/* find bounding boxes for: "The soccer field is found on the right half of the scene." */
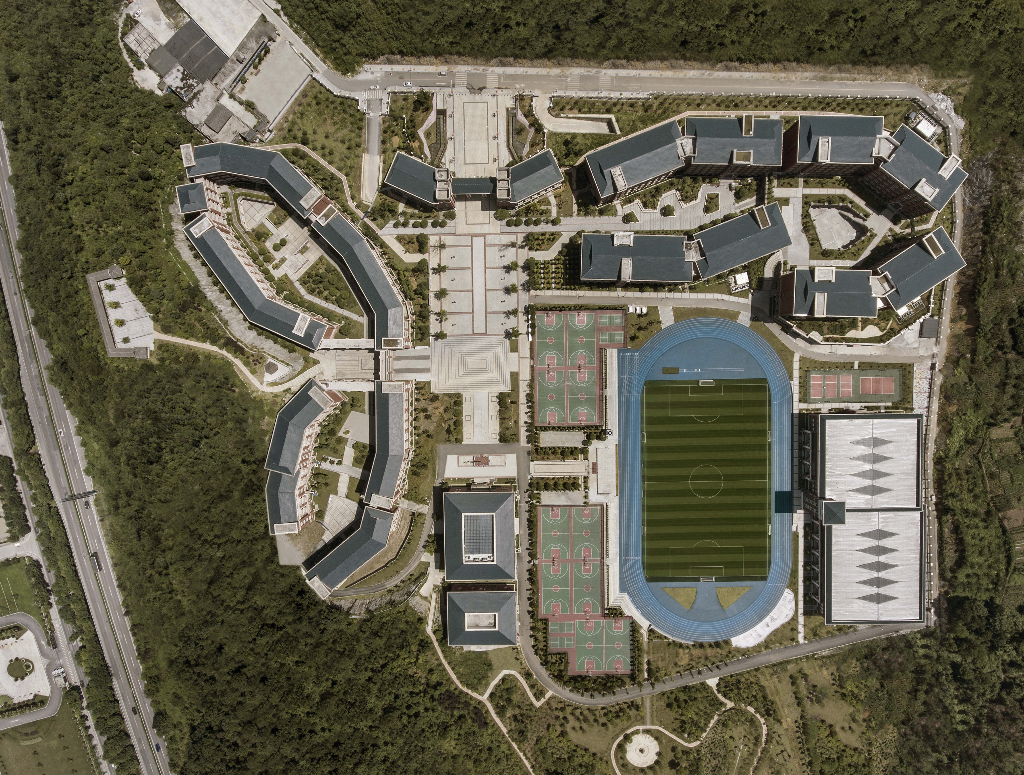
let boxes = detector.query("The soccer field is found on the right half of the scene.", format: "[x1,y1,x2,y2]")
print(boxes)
[642,380,770,582]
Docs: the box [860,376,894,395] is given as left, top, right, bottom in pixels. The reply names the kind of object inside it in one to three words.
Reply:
sports court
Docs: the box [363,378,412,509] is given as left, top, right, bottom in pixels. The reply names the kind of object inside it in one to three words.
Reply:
building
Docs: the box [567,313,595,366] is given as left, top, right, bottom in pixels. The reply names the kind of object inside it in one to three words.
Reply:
basketball court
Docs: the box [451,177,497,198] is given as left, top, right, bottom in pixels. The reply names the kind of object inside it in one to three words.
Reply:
building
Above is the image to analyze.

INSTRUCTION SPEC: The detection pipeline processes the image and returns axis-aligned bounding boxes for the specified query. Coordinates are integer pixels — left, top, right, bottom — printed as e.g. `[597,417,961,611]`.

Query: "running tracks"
[617,316,792,642]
